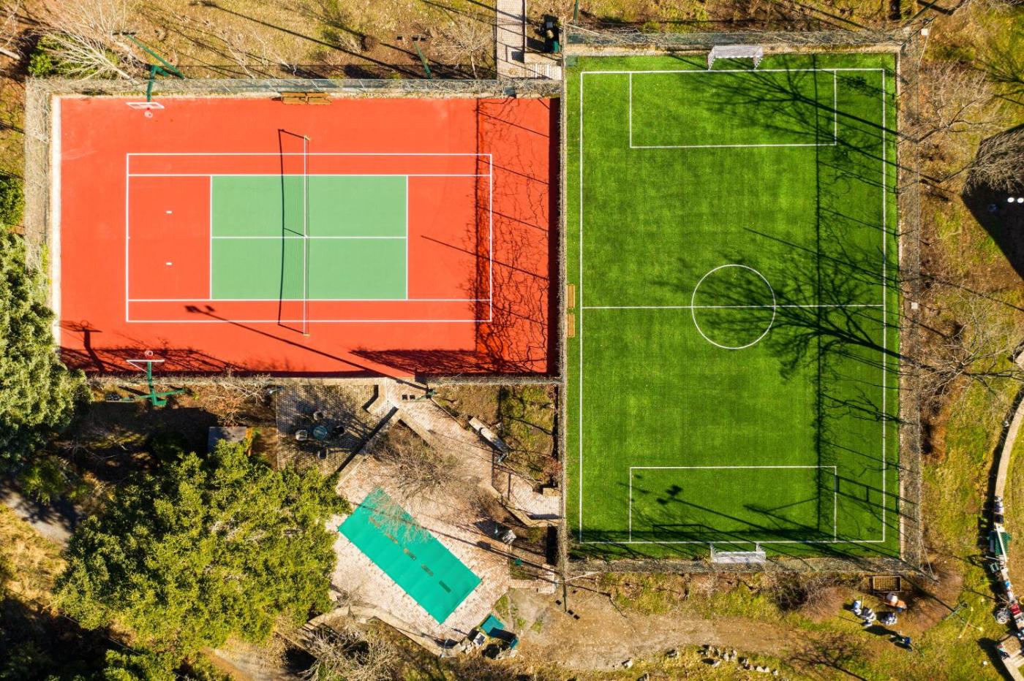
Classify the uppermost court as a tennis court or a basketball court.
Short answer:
tennis court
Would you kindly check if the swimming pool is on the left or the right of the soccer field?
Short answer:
to the left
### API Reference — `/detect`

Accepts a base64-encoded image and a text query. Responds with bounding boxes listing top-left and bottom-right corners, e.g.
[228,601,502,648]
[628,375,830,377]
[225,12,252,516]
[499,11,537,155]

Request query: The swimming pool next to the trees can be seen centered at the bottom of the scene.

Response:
[336,486,483,626]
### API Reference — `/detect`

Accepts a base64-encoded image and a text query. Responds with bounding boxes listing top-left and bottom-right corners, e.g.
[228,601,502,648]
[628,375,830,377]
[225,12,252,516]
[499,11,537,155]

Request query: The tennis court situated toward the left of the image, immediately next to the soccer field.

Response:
[59,97,560,379]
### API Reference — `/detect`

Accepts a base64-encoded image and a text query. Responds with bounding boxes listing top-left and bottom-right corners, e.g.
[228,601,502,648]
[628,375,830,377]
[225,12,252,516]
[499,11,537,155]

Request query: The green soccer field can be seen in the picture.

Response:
[566,54,898,560]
